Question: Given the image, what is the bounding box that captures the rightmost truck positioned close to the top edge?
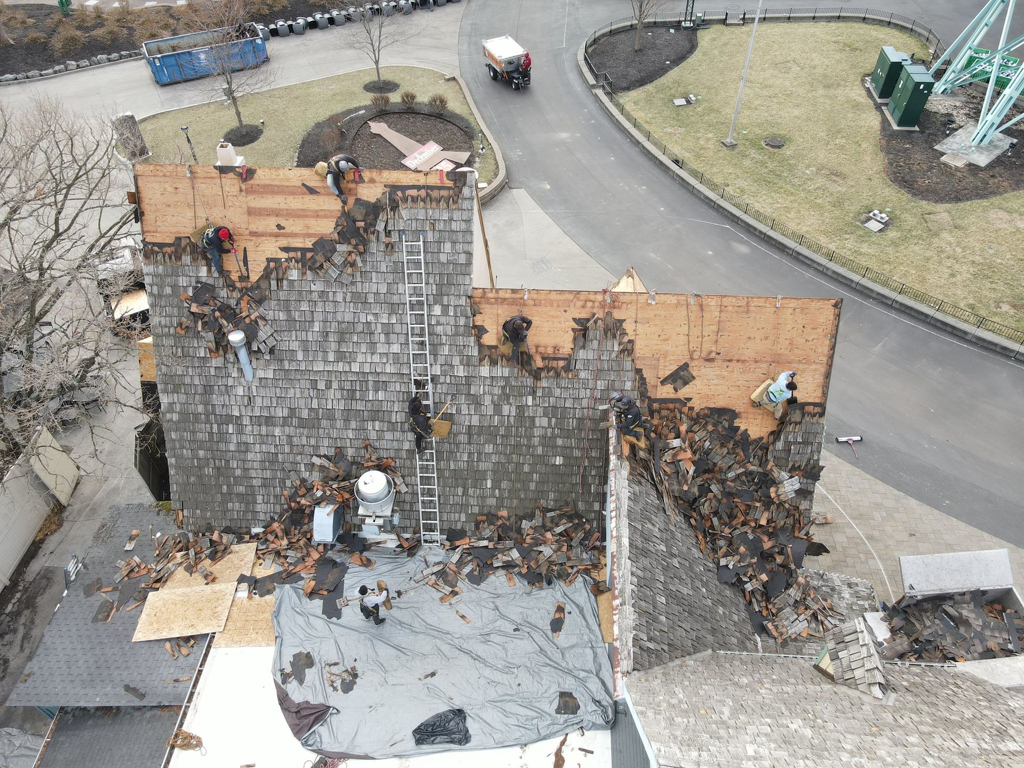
[476,34,533,94]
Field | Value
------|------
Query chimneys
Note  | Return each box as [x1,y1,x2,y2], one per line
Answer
[214,133,258,165]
